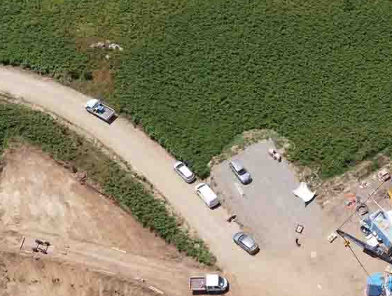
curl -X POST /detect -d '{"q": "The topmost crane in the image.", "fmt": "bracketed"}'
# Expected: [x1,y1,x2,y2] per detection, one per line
[341,180,392,280]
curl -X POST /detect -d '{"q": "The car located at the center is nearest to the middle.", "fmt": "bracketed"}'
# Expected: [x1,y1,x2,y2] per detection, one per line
[172,158,196,181]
